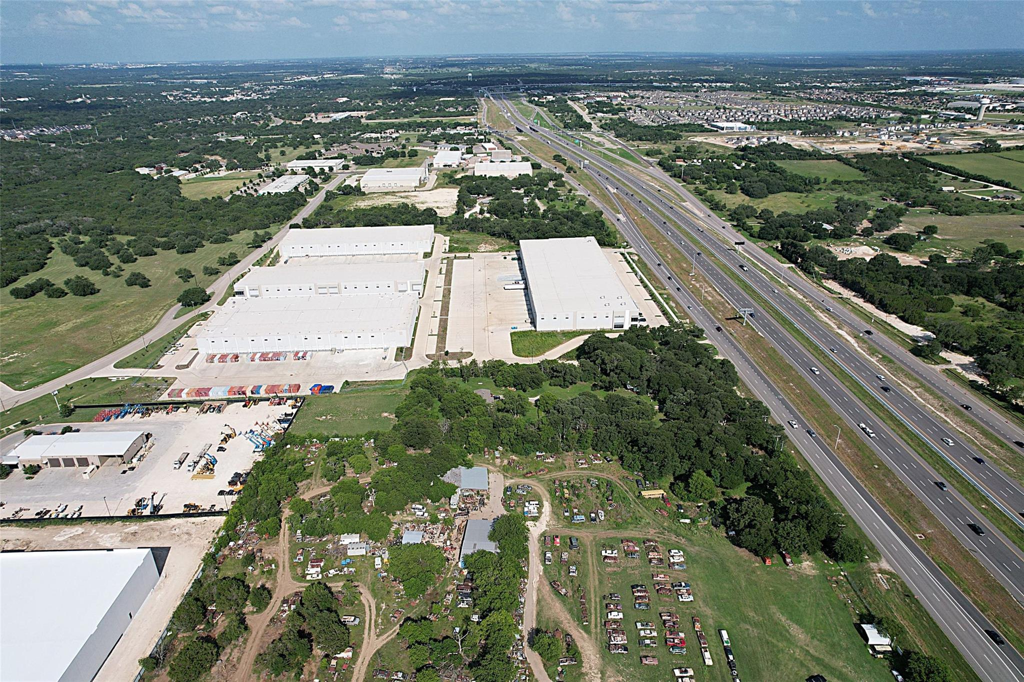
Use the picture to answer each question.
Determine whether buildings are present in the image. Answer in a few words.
Yes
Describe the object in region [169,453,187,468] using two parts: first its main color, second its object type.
white vehicle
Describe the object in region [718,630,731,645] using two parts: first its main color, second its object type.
white vehicle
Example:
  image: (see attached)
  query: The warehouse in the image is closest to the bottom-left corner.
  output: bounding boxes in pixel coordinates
[0,548,158,682]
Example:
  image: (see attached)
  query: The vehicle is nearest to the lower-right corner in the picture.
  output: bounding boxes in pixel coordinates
[987,628,1004,644]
